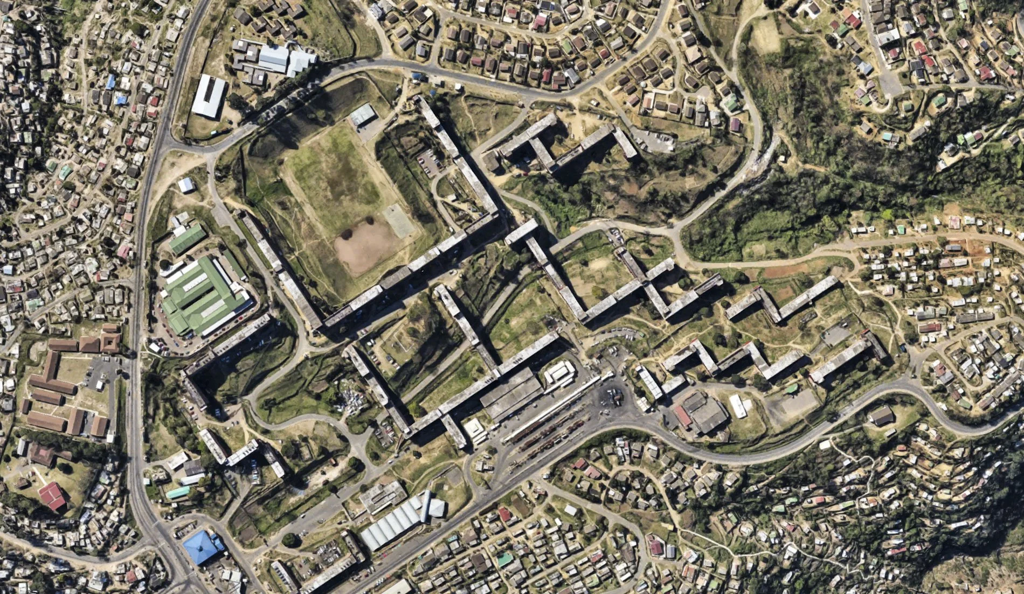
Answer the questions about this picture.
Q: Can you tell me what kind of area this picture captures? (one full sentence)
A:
The area seen from above is a residential area.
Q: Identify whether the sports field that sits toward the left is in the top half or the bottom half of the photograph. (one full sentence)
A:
It is in the top half that the sports field that sits toward the left appears.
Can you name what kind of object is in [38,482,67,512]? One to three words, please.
building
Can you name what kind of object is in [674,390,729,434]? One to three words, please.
building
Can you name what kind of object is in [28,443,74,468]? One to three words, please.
house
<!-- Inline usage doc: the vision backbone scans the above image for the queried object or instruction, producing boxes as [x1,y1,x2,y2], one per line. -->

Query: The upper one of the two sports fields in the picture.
[753,20,780,55]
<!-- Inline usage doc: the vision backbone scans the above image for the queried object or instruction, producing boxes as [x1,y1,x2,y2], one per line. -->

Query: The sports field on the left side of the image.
[281,121,405,276]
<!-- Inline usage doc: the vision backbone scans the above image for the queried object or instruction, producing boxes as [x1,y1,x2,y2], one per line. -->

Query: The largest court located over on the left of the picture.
[383,204,415,239]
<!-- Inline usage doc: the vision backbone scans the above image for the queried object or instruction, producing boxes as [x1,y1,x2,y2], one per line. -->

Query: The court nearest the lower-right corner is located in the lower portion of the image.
[781,389,819,419]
